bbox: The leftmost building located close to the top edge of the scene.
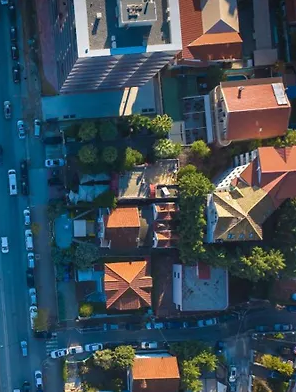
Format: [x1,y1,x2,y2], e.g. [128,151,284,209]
[38,0,182,124]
